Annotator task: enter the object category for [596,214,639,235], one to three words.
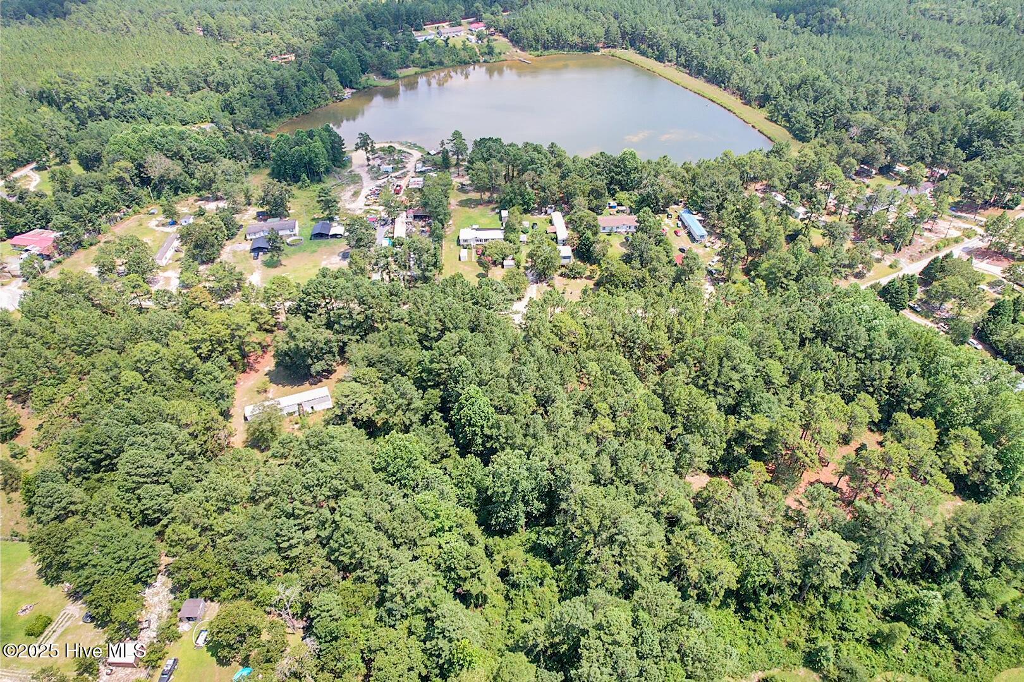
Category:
house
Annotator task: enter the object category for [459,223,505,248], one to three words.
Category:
house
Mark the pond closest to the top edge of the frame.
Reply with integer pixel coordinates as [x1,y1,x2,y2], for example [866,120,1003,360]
[274,53,773,174]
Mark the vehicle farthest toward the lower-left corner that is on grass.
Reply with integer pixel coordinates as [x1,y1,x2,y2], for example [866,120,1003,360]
[154,651,183,682]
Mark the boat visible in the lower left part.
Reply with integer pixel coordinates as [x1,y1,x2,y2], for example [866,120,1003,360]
[187,620,207,652]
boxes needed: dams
[605,45,806,157]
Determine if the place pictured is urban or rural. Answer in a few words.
rural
